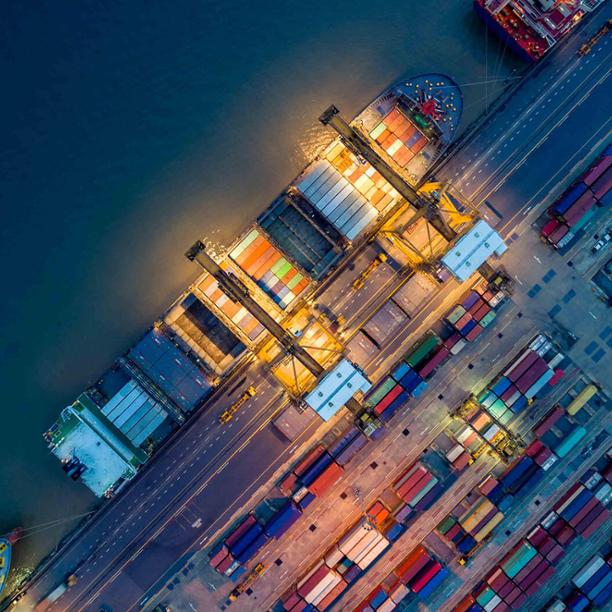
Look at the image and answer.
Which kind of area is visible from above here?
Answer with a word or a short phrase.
port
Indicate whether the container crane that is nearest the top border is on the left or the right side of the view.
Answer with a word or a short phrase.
right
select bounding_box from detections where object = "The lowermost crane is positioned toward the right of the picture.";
[443,388,520,462]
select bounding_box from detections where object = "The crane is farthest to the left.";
[184,240,378,433]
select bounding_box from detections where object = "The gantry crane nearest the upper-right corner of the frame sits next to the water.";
[317,104,510,297]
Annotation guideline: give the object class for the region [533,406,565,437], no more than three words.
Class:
shipping container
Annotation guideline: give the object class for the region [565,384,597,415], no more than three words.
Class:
shipping container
